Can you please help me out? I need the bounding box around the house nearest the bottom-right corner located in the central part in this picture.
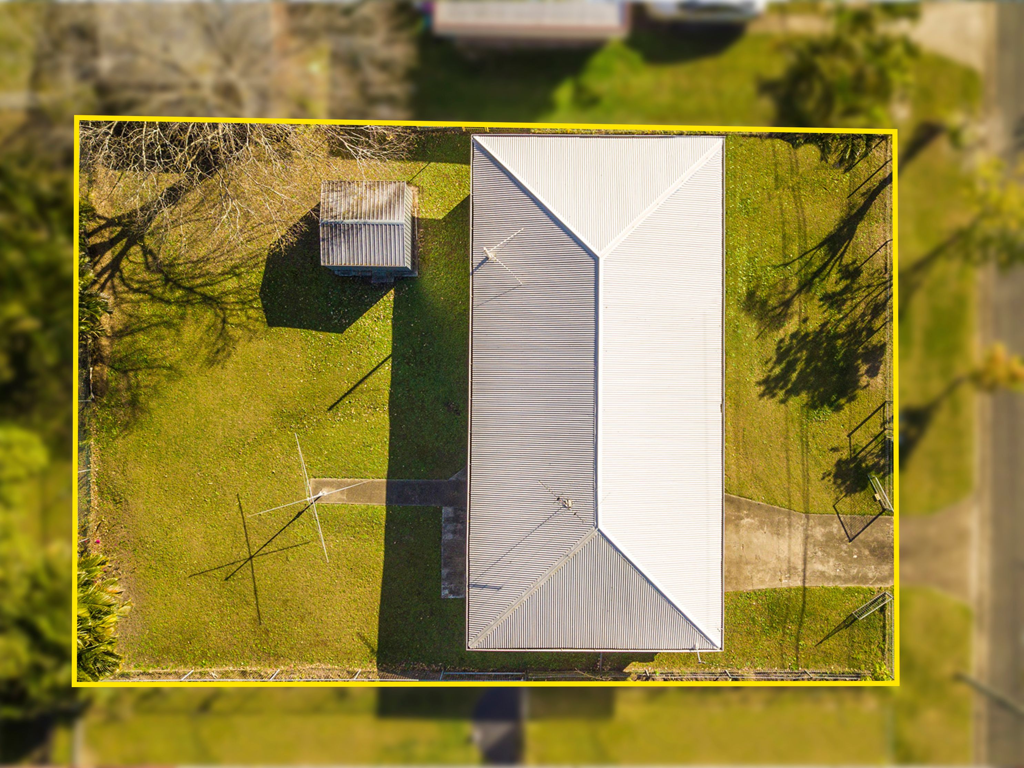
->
[467,134,727,664]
